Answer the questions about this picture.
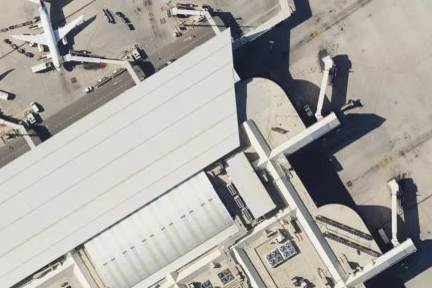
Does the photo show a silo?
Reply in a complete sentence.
No, there appears to be no silo in this shot.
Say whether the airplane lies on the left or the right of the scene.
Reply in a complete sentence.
The airplane appears in the left half of the scene.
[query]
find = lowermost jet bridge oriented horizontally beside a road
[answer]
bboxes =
[61,54,142,85]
